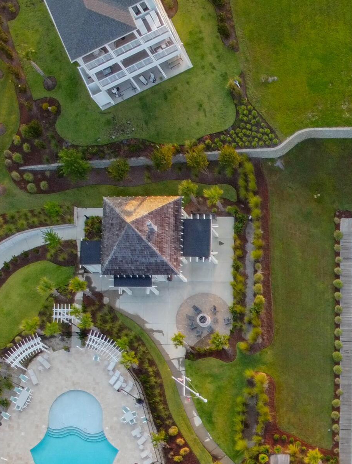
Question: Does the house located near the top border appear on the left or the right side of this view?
left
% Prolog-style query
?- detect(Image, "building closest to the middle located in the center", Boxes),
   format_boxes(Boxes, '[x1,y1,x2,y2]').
[71,195,219,295]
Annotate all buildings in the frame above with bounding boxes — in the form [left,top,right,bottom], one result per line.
[71,195,219,295]
[41,0,196,111]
